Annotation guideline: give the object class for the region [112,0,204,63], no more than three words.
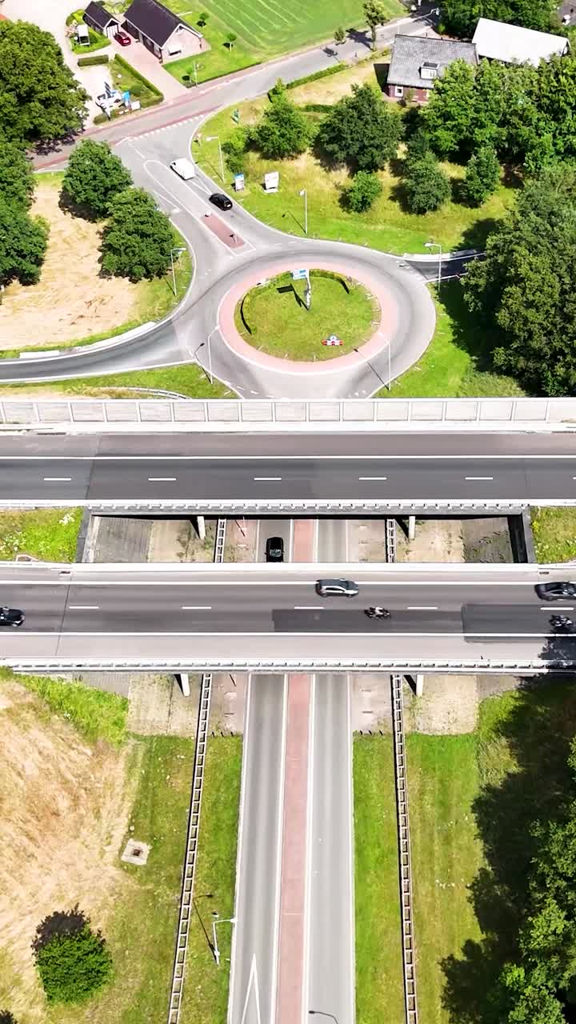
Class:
house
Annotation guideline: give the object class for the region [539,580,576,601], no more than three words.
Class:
car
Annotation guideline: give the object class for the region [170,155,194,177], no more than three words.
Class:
vehicle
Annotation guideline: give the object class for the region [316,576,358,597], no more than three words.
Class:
car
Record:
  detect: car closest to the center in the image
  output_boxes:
[265,536,284,561]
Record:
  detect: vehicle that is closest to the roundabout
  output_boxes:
[211,192,232,209]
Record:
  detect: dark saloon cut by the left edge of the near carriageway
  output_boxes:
[0,604,25,625]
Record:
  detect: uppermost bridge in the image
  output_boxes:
[0,423,576,539]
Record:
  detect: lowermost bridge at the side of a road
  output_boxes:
[0,561,576,699]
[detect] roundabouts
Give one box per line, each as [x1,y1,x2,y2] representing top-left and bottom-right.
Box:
[180,242,437,397]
